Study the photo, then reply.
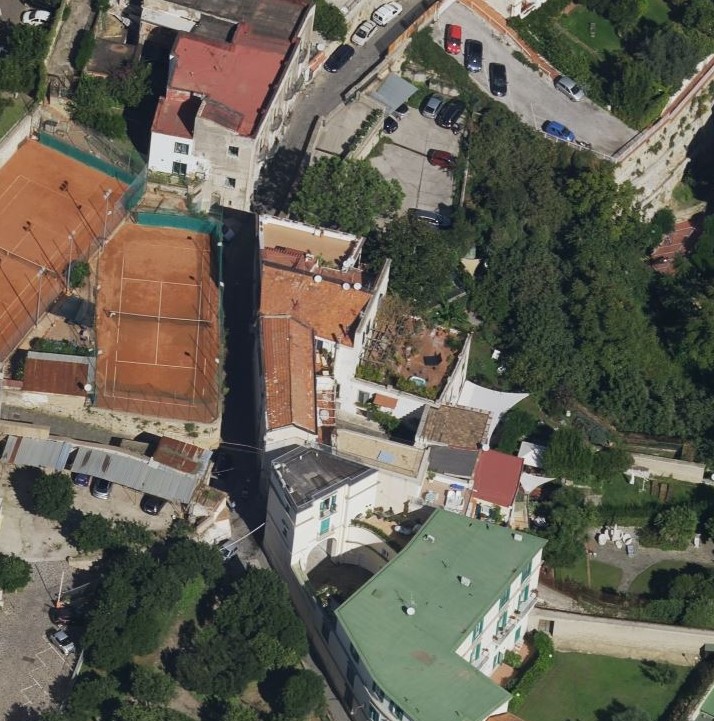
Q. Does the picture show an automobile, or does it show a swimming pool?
automobile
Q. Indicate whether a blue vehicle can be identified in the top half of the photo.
Yes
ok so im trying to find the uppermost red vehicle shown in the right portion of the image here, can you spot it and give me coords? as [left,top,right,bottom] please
[444,25,462,54]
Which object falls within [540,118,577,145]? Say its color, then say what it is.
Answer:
blue car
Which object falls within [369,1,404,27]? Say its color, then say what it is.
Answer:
white car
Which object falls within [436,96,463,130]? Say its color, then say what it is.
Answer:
black car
